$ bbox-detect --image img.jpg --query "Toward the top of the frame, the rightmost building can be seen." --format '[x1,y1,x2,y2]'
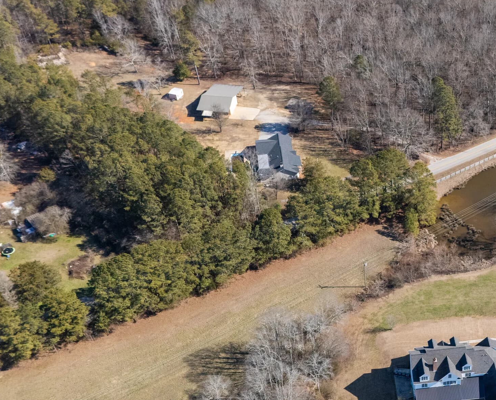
[256,132,306,184]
